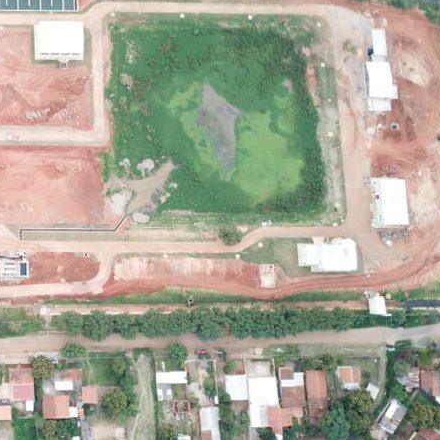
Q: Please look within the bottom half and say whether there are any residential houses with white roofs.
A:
Yes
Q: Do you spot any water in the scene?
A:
Yes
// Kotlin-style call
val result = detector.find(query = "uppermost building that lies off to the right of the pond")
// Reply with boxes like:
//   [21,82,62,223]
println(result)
[367,28,388,57]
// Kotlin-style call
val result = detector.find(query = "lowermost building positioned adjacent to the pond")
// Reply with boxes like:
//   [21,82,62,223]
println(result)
[294,235,360,272]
